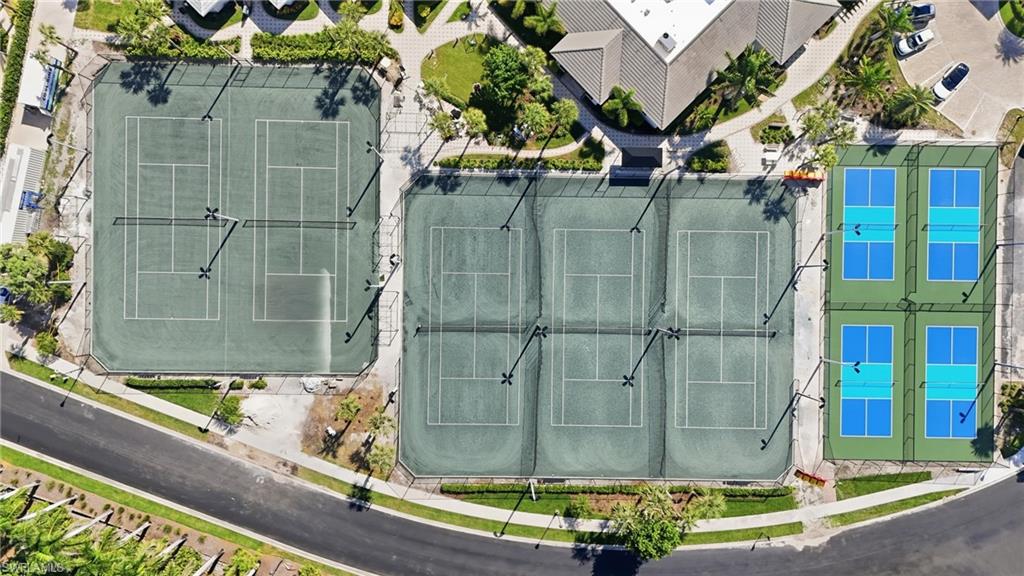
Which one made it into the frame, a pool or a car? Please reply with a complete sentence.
Of the two, only a car appears.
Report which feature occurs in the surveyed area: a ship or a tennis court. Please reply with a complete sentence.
There is a tennis court in the scene.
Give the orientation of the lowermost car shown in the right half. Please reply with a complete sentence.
The lowermost car shown in the right half has been laid out diagonally relative to the frame.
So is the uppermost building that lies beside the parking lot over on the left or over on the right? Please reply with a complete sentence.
You can find the uppermost building that lies beside the parking lot on the right side of the picture.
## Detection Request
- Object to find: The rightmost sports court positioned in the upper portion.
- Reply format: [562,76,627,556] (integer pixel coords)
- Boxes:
[911,146,998,304]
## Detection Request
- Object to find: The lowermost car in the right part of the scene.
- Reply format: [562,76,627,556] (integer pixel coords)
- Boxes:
[931,65,968,101]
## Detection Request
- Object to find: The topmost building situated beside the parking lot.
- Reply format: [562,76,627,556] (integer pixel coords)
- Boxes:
[533,0,849,130]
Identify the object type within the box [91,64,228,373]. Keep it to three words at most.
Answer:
tennis court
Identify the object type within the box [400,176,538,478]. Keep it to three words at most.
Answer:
tennis court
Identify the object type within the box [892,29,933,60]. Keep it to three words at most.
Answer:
car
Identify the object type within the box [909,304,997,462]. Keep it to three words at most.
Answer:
sports court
